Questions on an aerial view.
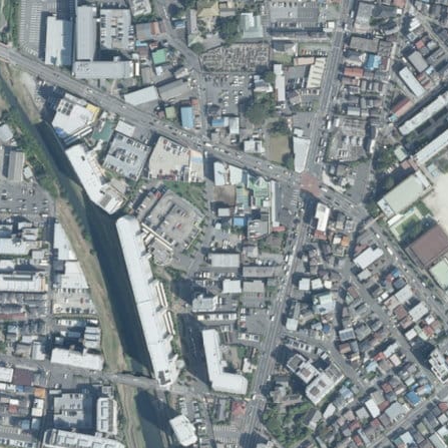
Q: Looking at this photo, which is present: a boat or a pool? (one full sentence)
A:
The image shows a pool.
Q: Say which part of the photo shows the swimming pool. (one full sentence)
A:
Look in the right portion of the view to spot the swimming pool.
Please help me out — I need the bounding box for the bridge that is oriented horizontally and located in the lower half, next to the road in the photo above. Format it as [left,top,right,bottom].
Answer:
[101,367,158,389]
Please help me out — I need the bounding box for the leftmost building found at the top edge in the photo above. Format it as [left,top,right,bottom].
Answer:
[46,17,73,66]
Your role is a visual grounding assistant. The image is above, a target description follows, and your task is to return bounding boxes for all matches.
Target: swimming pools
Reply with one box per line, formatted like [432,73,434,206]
[389,206,428,241]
